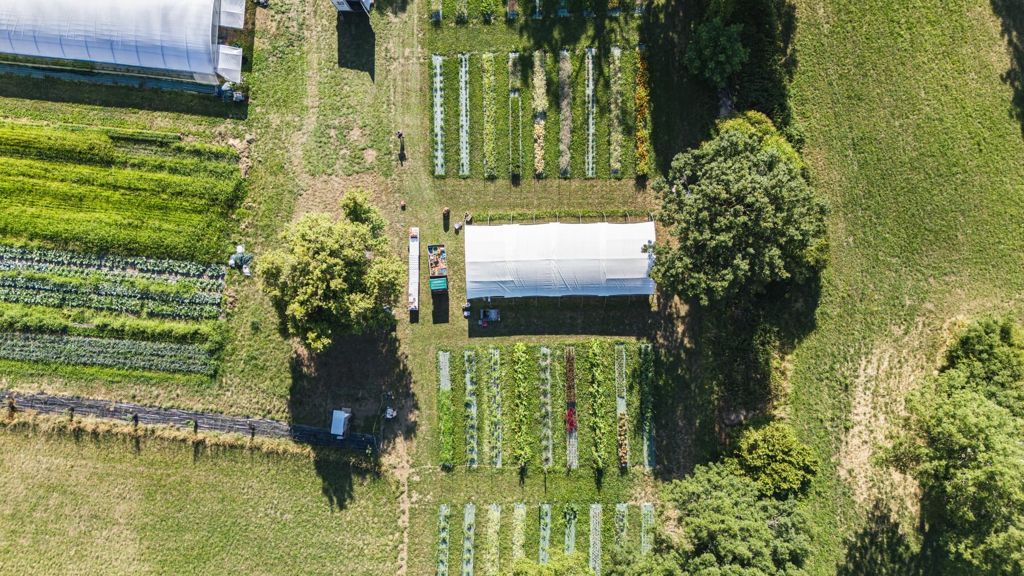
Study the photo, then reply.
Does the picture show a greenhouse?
Yes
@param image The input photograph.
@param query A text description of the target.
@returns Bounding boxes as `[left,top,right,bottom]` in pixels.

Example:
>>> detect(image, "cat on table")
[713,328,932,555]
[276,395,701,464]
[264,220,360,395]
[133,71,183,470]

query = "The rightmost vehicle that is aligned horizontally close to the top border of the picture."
[330,0,373,21]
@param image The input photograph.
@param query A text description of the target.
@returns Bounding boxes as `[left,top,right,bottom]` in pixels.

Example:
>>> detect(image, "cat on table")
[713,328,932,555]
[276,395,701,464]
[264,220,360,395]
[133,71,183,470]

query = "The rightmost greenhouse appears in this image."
[463,212,659,307]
